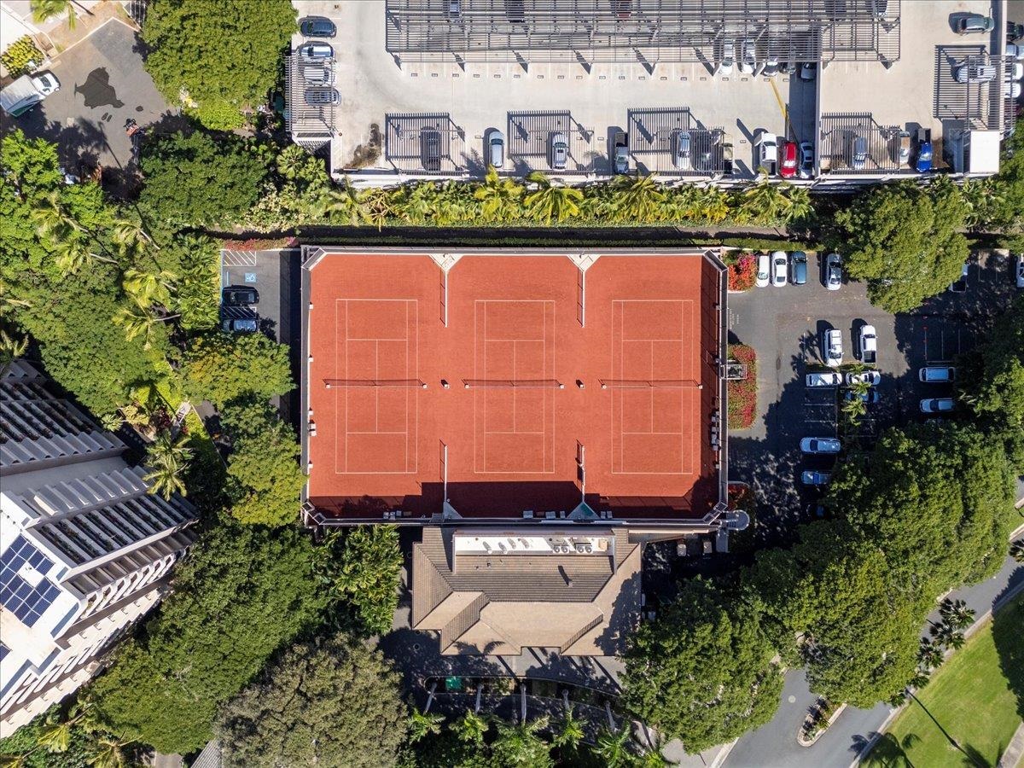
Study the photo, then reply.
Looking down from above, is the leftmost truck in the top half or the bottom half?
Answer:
top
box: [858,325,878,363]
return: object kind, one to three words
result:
vehicle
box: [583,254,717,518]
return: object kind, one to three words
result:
tennis court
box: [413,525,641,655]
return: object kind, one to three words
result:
building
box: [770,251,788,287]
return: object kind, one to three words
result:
car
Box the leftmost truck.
[0,73,59,115]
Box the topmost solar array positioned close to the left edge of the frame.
[0,534,59,628]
